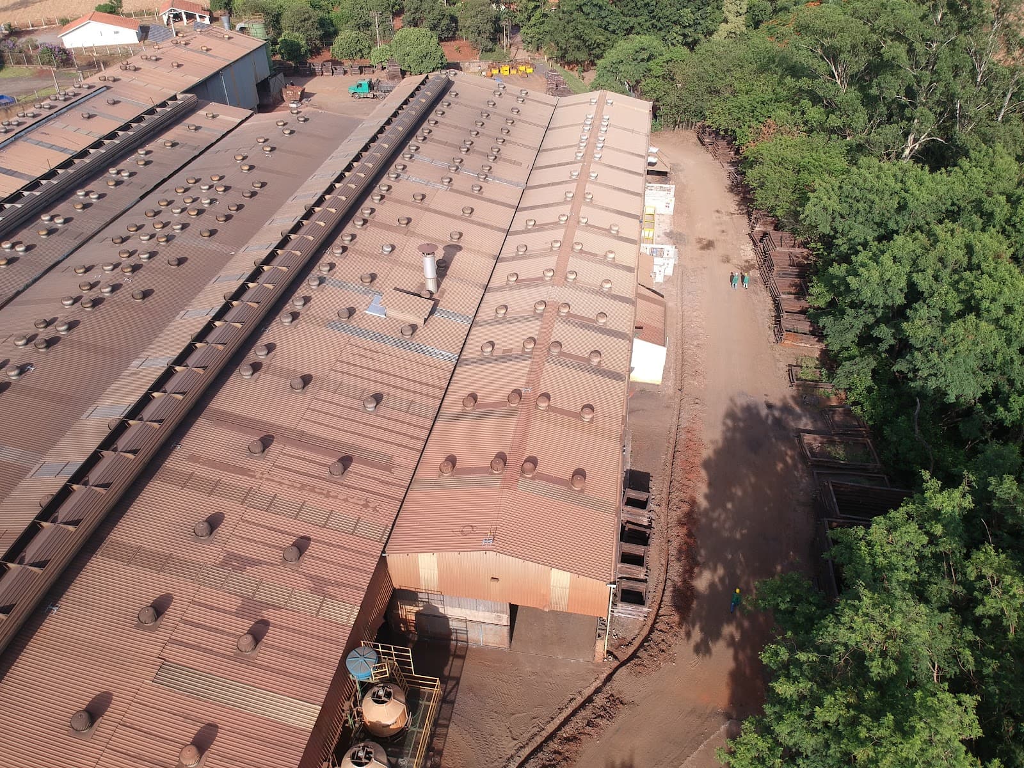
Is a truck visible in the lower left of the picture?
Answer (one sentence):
No, the scene shows no truck in the lower left of the picture.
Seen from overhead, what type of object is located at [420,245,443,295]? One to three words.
chimney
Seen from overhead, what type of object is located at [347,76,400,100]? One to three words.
truck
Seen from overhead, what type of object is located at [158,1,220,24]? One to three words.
house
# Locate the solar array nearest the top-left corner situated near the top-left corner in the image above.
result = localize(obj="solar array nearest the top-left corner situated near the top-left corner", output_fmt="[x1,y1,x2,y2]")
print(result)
[148,24,177,42]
